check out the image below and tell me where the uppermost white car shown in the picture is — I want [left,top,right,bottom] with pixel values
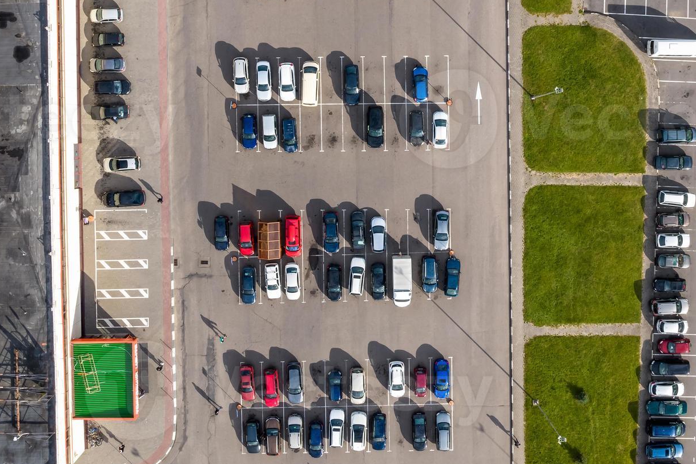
[90,7,123,24]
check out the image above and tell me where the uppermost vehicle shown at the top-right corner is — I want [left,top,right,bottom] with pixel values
[646,38,696,57]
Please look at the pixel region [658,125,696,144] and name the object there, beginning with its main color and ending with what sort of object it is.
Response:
blue car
